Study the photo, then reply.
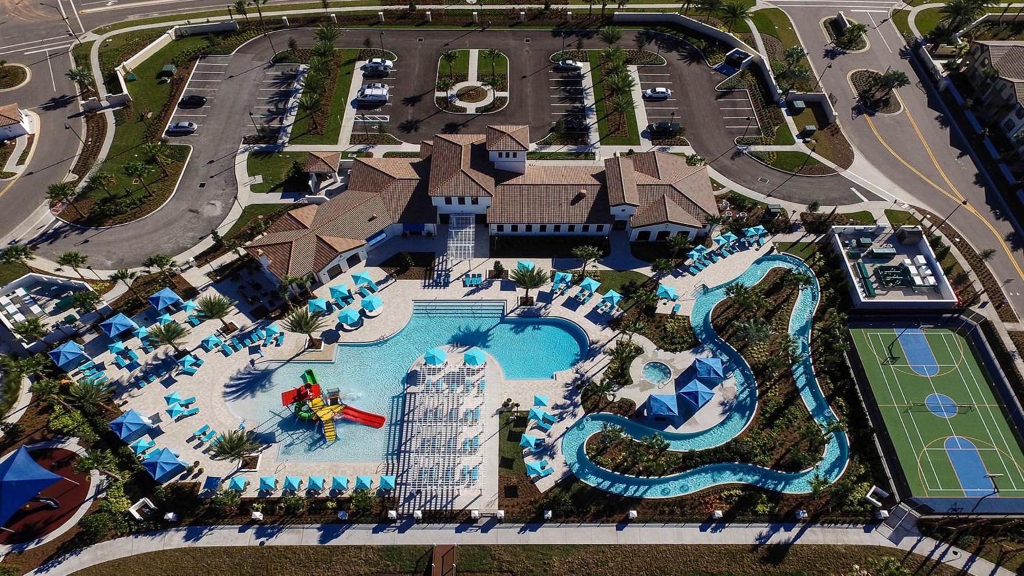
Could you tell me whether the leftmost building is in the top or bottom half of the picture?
top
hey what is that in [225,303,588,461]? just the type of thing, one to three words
swimming pool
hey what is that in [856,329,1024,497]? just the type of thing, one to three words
sports court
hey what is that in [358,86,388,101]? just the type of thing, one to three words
car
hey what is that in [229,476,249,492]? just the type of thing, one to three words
umbrella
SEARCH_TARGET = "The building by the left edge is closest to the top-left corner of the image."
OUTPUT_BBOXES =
[0,103,28,136]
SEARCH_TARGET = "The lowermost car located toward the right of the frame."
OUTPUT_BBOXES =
[648,120,680,134]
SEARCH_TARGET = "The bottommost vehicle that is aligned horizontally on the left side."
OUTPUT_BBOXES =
[167,121,199,133]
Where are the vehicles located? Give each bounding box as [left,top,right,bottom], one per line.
[178,96,209,108]
[557,59,583,71]
[366,57,393,69]
[358,86,388,101]
[648,120,680,134]
[644,87,672,99]
[167,121,199,133]
[363,67,390,79]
